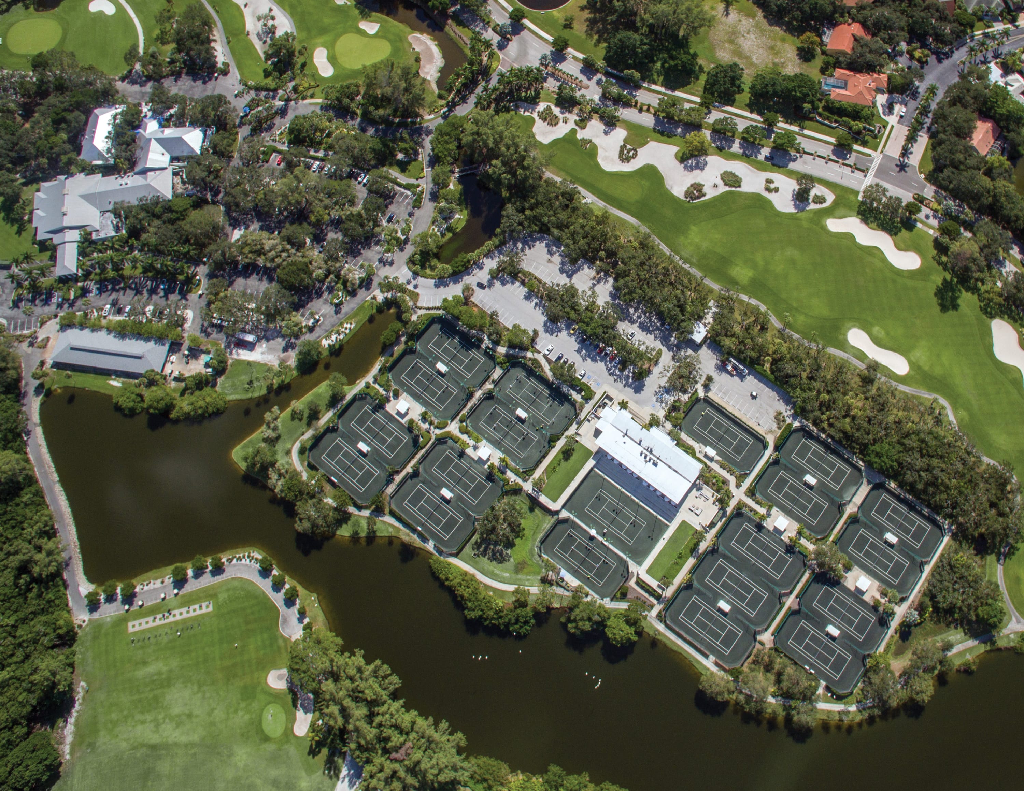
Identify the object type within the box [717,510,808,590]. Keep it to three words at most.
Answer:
tennis court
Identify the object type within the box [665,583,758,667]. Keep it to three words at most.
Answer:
tennis court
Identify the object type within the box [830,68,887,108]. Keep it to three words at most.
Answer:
house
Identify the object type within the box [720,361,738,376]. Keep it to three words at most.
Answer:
vehicle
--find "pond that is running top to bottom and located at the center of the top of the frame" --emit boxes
[439,146,503,263]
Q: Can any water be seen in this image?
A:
Yes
